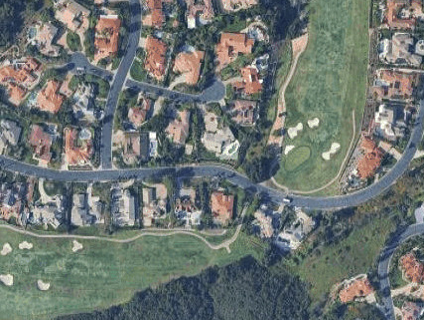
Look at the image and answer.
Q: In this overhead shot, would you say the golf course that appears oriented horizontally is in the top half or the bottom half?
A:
bottom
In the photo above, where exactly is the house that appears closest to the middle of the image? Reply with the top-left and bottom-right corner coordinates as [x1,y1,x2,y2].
[195,120,238,157]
